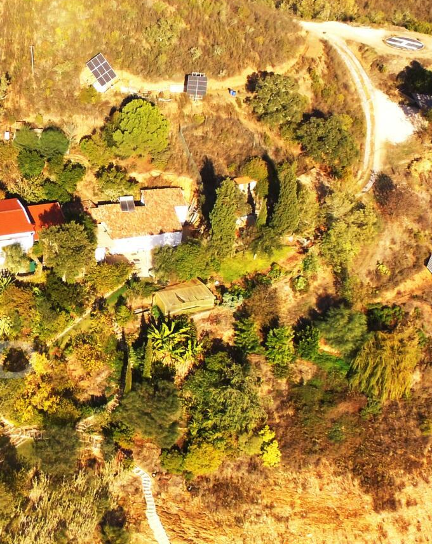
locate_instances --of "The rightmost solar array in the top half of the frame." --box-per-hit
[187,72,208,103]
